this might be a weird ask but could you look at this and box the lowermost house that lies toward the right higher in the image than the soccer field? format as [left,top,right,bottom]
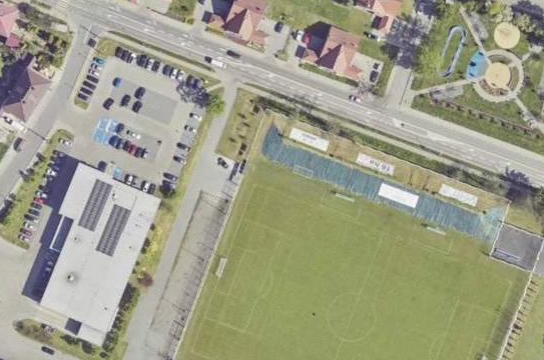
[299,22,364,78]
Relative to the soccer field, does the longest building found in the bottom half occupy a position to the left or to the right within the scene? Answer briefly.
to its left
